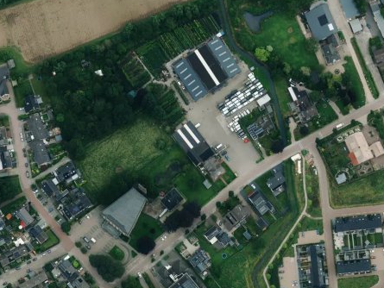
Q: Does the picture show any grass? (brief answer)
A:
Yes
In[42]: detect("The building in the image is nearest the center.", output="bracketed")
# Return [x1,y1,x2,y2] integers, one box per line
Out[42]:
[174,121,215,165]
